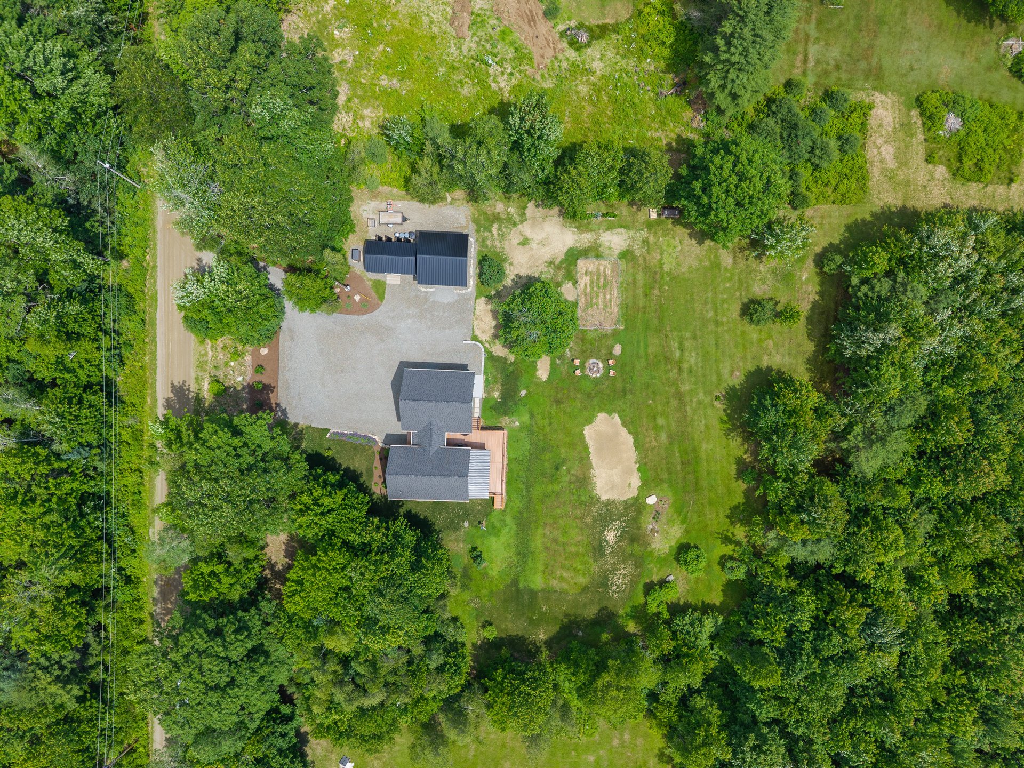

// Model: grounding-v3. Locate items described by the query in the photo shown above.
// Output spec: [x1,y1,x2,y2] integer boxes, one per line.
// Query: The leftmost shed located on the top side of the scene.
[364,241,417,275]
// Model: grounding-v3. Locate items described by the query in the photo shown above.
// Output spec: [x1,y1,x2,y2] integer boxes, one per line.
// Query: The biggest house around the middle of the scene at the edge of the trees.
[386,367,491,503]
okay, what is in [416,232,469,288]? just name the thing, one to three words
shed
